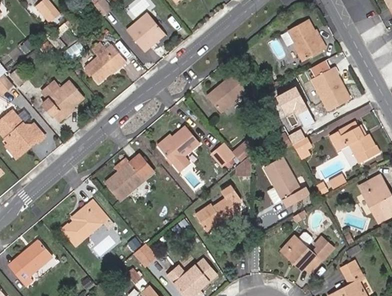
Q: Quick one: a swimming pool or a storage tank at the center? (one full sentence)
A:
Visible at the center is a swimming pool.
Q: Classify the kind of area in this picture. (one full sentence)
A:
This looks like a residential area.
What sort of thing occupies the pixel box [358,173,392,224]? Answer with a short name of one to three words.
house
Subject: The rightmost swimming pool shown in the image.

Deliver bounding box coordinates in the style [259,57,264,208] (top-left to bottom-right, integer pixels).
[336,204,371,232]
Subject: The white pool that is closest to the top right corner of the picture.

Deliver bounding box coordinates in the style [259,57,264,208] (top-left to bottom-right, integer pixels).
[267,36,288,61]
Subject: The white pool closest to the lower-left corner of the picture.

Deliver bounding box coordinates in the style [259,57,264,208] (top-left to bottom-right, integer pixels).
[181,163,206,192]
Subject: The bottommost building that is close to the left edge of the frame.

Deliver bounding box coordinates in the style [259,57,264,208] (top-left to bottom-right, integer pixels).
[10,240,58,284]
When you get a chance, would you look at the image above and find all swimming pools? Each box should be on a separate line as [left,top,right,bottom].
[181,163,206,192]
[316,154,353,182]
[336,204,371,232]
[267,36,288,61]
[308,210,332,234]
